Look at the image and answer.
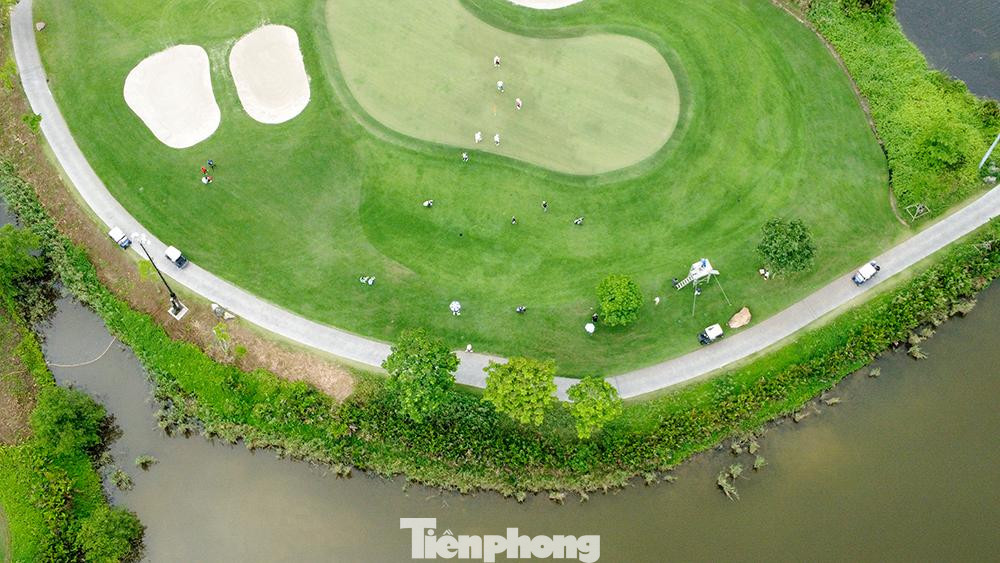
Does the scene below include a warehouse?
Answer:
No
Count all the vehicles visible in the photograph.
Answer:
4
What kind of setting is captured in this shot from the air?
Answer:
golf course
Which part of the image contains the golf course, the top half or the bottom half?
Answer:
top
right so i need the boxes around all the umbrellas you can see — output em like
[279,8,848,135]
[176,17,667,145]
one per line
[583,322,596,333]
[447,302,459,312]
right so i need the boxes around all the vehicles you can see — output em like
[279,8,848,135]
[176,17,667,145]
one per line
[852,261,881,288]
[166,247,192,276]
[694,322,724,350]
[108,228,135,257]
